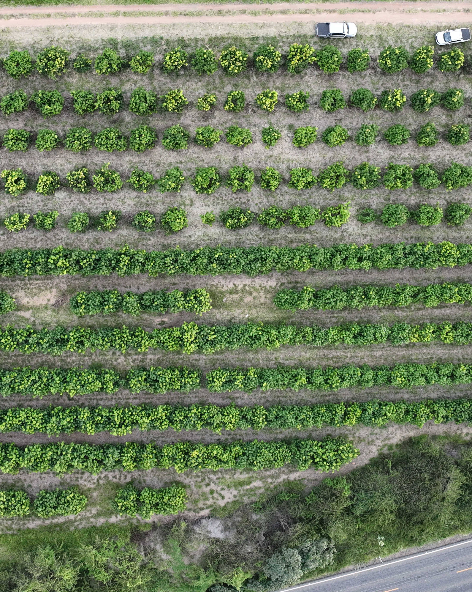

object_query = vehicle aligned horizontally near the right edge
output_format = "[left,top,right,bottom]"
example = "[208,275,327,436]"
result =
[433,27,472,46]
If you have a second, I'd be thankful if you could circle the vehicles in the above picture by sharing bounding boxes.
[315,21,356,39]
[433,27,472,46]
